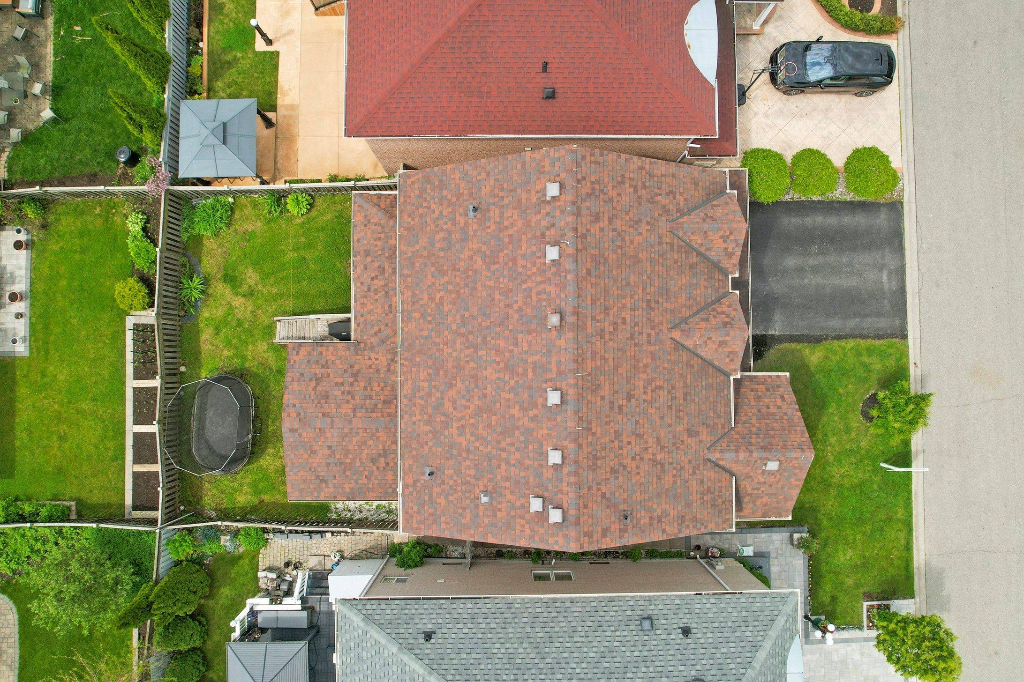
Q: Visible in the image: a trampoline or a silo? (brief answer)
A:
trampoline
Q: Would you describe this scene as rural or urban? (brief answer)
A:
urban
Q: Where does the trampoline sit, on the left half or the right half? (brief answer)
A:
left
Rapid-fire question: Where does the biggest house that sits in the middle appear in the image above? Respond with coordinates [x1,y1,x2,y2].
[282,145,815,552]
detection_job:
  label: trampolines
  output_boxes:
[165,370,266,476]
